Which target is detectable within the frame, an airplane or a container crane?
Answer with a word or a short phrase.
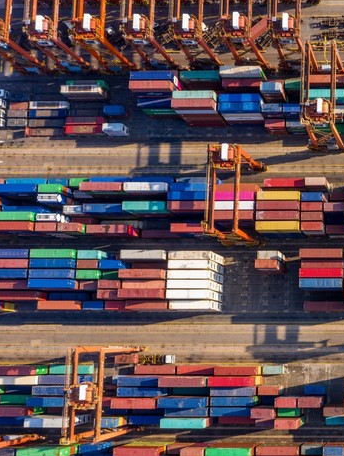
container crane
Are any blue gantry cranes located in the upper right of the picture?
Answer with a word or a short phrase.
No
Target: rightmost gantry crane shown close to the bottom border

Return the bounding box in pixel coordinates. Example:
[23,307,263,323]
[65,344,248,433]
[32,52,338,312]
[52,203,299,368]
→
[62,344,150,444]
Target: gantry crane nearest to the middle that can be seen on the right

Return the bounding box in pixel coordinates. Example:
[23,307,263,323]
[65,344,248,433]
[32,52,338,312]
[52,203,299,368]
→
[203,142,268,243]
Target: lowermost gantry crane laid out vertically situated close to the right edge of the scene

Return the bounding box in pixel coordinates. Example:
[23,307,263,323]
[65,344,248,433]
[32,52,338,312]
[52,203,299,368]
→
[298,39,344,147]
